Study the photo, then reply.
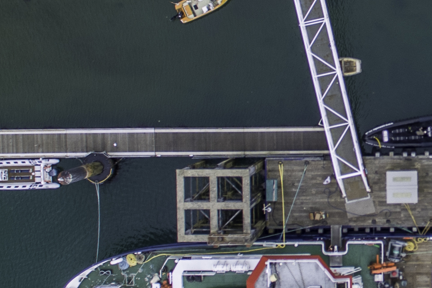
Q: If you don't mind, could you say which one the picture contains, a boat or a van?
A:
boat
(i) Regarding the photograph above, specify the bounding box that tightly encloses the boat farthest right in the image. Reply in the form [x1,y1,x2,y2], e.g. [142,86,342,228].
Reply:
[363,115,432,149]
